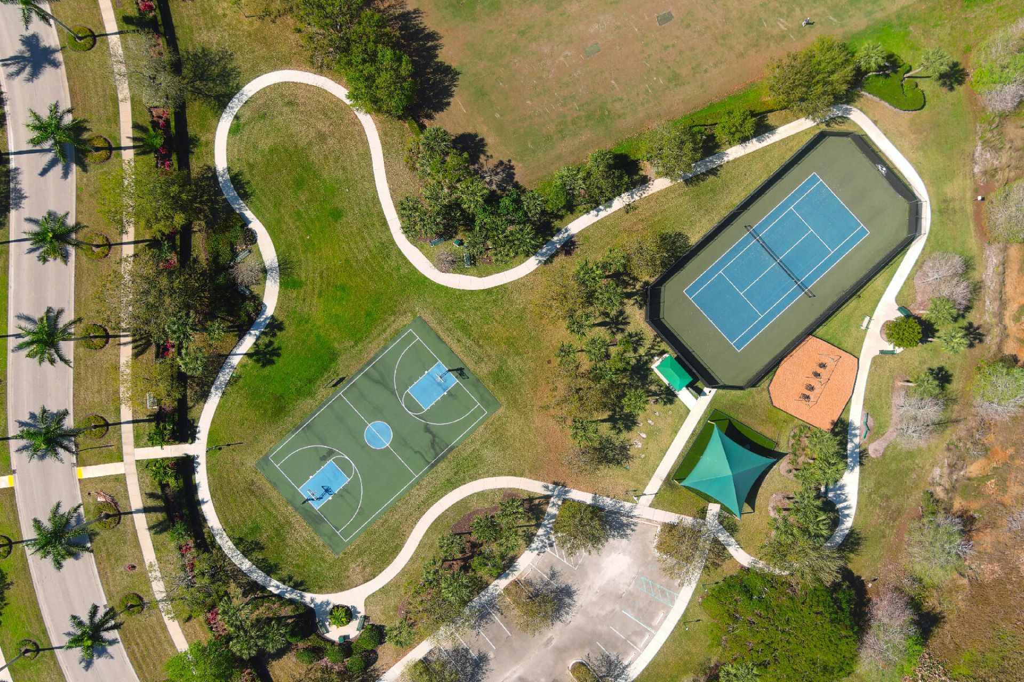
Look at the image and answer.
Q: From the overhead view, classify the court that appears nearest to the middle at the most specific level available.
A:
basketball court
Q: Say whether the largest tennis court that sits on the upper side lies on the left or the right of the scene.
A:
right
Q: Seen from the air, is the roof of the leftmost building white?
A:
No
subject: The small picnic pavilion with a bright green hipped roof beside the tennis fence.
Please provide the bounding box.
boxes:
[655,355,692,392]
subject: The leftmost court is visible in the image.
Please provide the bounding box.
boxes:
[257,317,500,555]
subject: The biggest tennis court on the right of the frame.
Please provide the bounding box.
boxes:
[644,134,907,390]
